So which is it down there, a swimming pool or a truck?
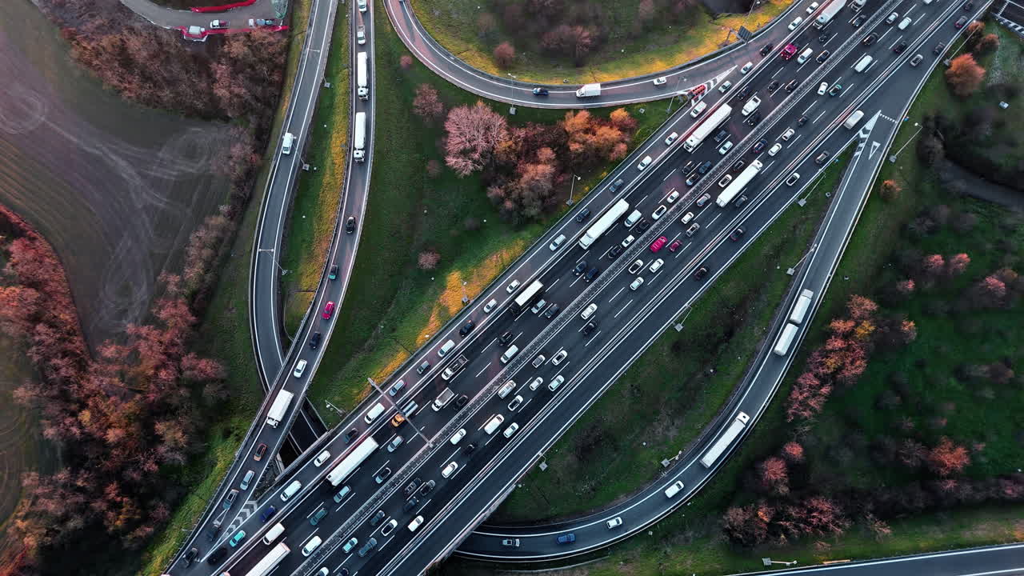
truck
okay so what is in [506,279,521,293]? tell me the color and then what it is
white car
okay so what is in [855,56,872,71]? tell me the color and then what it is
white vehicle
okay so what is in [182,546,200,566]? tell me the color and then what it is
black car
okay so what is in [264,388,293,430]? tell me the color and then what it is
white truck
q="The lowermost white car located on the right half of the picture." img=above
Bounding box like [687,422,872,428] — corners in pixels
[606,516,623,529]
